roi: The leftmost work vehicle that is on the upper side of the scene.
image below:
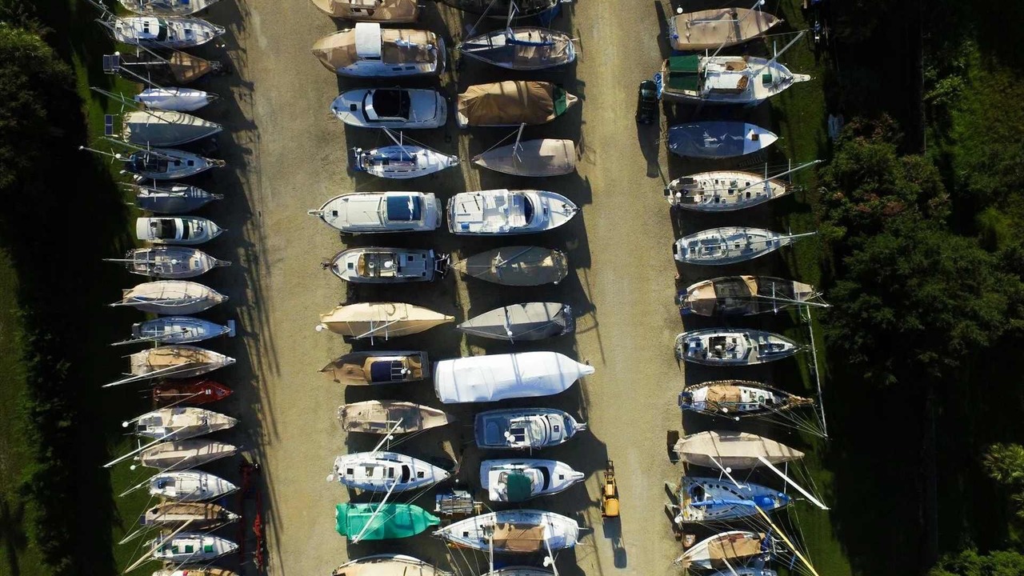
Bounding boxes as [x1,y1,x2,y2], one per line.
[632,81,657,132]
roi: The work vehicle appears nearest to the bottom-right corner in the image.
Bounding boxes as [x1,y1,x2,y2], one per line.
[599,459,621,517]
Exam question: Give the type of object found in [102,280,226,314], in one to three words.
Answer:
boat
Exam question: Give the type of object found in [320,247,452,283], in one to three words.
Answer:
boat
